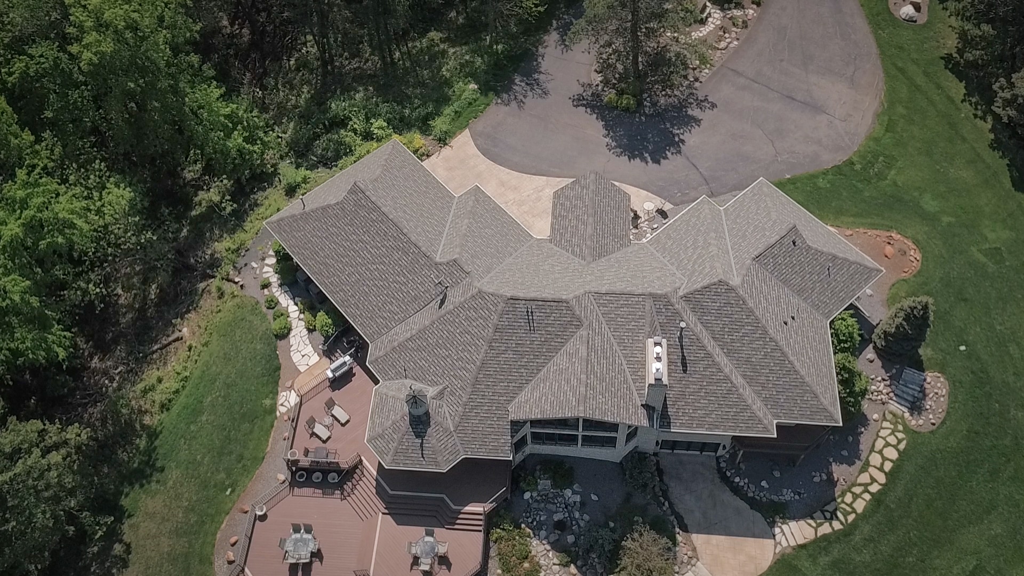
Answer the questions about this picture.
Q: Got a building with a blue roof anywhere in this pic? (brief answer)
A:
No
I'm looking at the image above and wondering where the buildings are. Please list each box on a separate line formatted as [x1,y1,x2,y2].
[263,138,886,477]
